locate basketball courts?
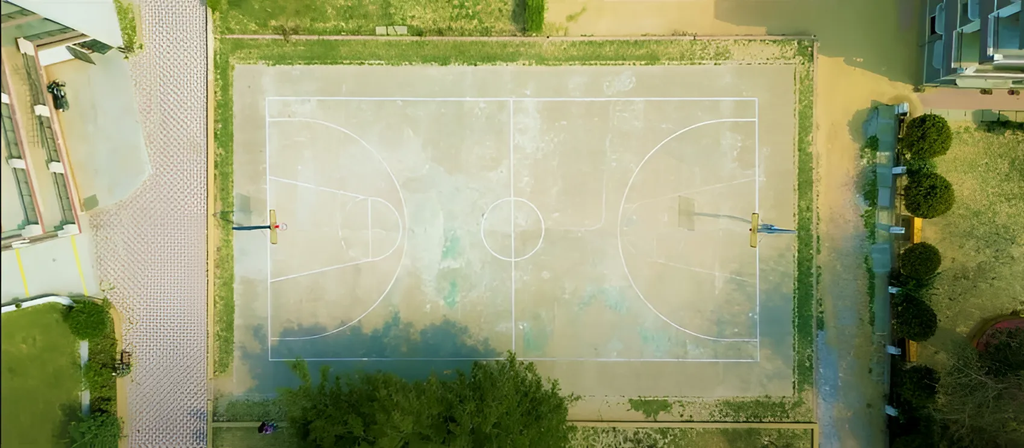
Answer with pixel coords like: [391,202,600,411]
[233,64,796,397]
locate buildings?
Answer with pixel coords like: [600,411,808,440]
[0,0,115,256]
[922,0,1024,94]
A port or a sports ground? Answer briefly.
sports ground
